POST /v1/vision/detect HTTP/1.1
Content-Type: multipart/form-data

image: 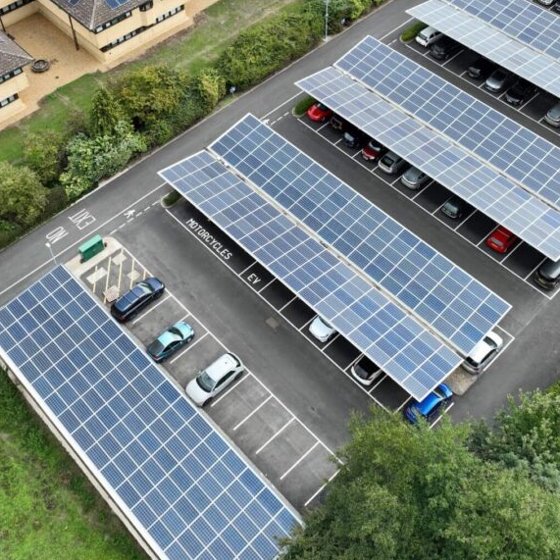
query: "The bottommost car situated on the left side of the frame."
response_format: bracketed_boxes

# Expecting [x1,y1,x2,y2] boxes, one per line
[188,350,246,404]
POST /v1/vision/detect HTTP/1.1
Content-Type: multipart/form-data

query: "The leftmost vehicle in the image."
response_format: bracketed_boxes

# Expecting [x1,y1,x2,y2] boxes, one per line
[107,279,163,324]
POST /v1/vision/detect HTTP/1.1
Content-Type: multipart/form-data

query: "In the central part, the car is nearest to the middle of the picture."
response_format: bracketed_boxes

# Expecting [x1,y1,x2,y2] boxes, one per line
[311,316,338,341]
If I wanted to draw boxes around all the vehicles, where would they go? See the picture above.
[486,66,520,92]
[329,114,353,134]
[432,35,464,59]
[534,258,560,288]
[403,382,454,431]
[547,103,560,127]
[507,77,539,102]
[471,56,501,77]
[145,315,200,364]
[344,126,371,149]
[401,166,431,190]
[487,225,520,254]
[311,316,338,341]
[443,194,473,220]
[107,279,163,324]
[464,329,505,370]
[307,102,335,124]
[413,25,445,49]
[188,350,246,404]
[380,152,410,177]
[361,139,391,163]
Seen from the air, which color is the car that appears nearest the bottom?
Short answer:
blue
